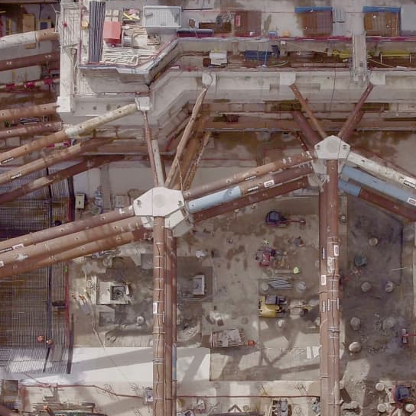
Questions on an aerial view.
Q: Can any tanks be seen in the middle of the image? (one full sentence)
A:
No, I see no tank in the middle of the image.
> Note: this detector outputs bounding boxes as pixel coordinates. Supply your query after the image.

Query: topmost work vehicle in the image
[268,209,307,226]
